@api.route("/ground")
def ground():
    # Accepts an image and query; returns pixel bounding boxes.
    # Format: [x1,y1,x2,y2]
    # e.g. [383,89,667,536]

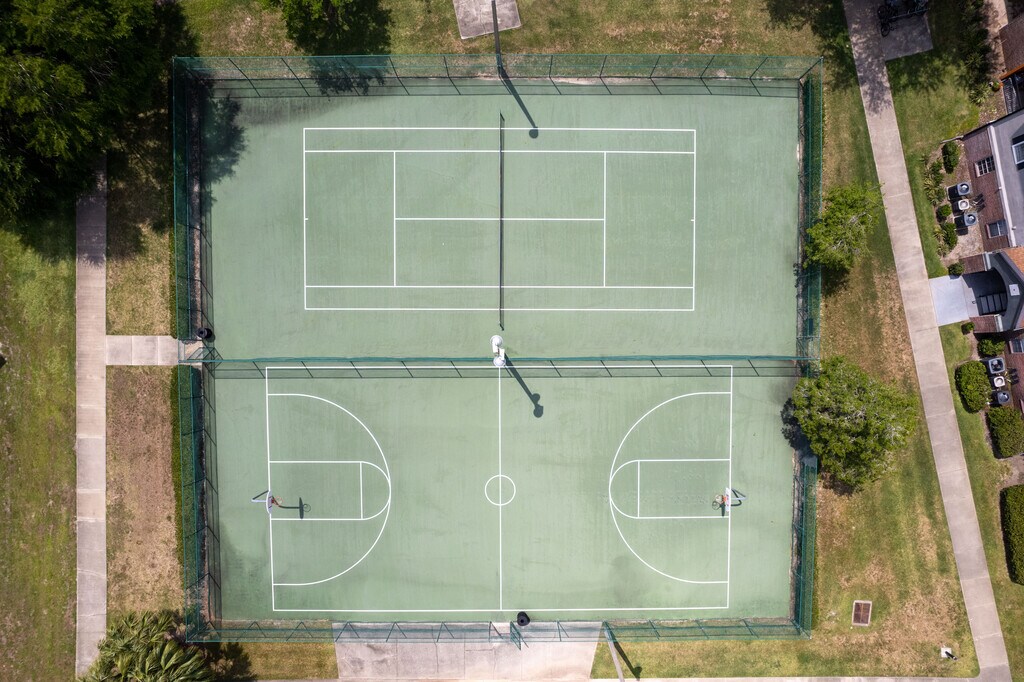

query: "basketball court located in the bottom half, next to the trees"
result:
[203,360,797,621]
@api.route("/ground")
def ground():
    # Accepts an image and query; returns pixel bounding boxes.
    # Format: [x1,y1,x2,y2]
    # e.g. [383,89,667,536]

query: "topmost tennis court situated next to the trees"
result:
[199,80,798,360]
